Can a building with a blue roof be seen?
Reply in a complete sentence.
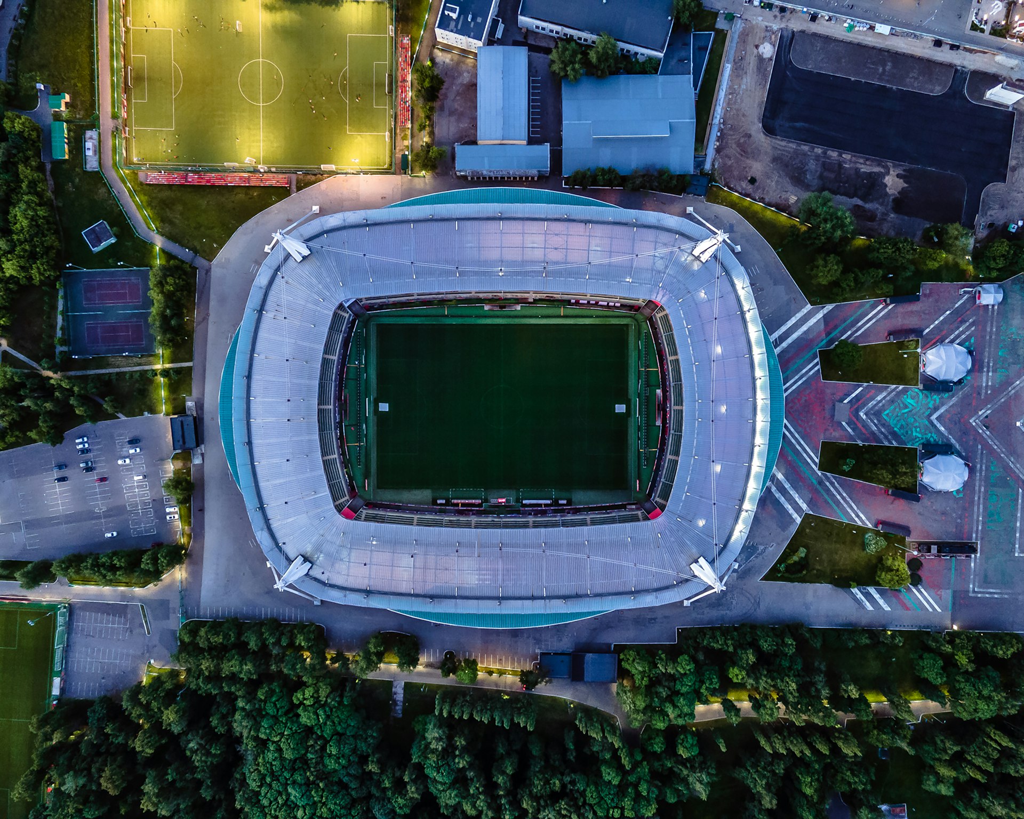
Yes, a building with a blue roof can be made out from above.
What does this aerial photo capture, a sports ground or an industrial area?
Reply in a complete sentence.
It's a sports ground.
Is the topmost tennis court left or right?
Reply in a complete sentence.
It is on the left.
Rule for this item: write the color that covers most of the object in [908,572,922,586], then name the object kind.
black umbrella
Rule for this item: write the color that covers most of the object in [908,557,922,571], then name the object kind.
black umbrella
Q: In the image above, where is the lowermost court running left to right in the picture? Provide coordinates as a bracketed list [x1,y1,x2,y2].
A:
[66,309,156,355]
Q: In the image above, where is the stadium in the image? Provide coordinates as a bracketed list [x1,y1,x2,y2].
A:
[218,187,785,629]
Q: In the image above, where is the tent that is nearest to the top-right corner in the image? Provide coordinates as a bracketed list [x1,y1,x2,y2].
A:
[977,283,1009,304]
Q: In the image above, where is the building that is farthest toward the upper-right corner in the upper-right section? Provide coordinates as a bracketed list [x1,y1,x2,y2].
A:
[985,77,1024,112]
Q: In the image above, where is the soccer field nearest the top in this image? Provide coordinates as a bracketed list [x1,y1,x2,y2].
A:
[115,0,396,171]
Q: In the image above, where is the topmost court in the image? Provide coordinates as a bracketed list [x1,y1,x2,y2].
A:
[63,269,152,313]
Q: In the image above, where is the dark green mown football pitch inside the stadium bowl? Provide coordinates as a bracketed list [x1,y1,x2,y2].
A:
[365,315,640,505]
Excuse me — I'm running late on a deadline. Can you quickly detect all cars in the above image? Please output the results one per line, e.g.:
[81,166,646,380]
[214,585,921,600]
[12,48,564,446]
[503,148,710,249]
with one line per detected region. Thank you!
[75,443,88,449]
[81,467,94,473]
[79,461,91,467]
[95,477,106,483]
[52,465,65,470]
[522,685,533,691]
[117,458,129,464]
[54,477,66,482]
[166,515,177,520]
[104,532,116,538]
[165,507,176,512]
[127,439,139,445]
[133,474,145,480]
[76,449,89,455]
[128,448,140,454]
